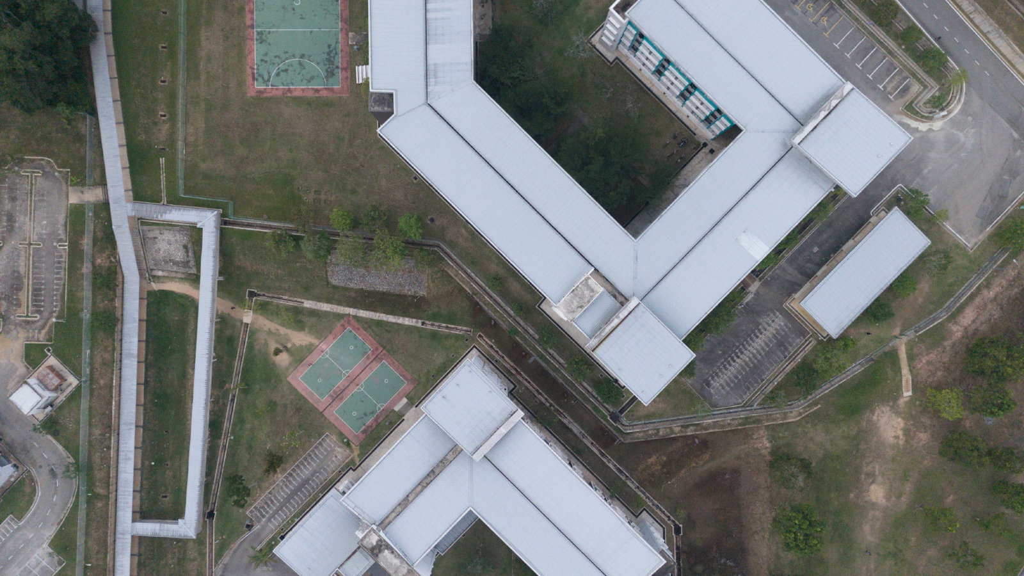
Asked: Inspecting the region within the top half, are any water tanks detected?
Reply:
No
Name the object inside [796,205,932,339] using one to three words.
shed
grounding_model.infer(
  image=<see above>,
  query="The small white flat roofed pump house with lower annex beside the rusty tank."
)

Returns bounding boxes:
[9,378,68,416]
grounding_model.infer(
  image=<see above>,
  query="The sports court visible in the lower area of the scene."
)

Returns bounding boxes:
[287,315,418,446]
